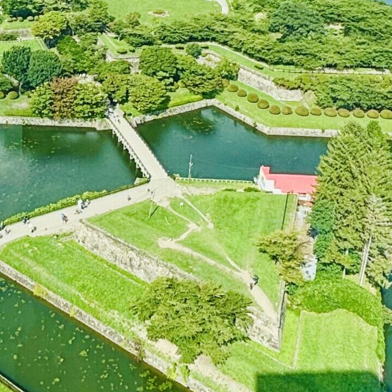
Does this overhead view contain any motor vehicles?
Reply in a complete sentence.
No, the picture doesn't show any motor vehicle.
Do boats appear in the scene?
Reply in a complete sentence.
No, this view has no boat in it.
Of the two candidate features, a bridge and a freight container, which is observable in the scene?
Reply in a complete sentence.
I can see a bridge in this picture.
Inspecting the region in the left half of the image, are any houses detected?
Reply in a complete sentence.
No, no house appears in the left half of the image.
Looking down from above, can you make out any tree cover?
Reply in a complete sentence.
Yes, some tree cover is visible.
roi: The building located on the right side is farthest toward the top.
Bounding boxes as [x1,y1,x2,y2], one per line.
[255,154,323,197]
